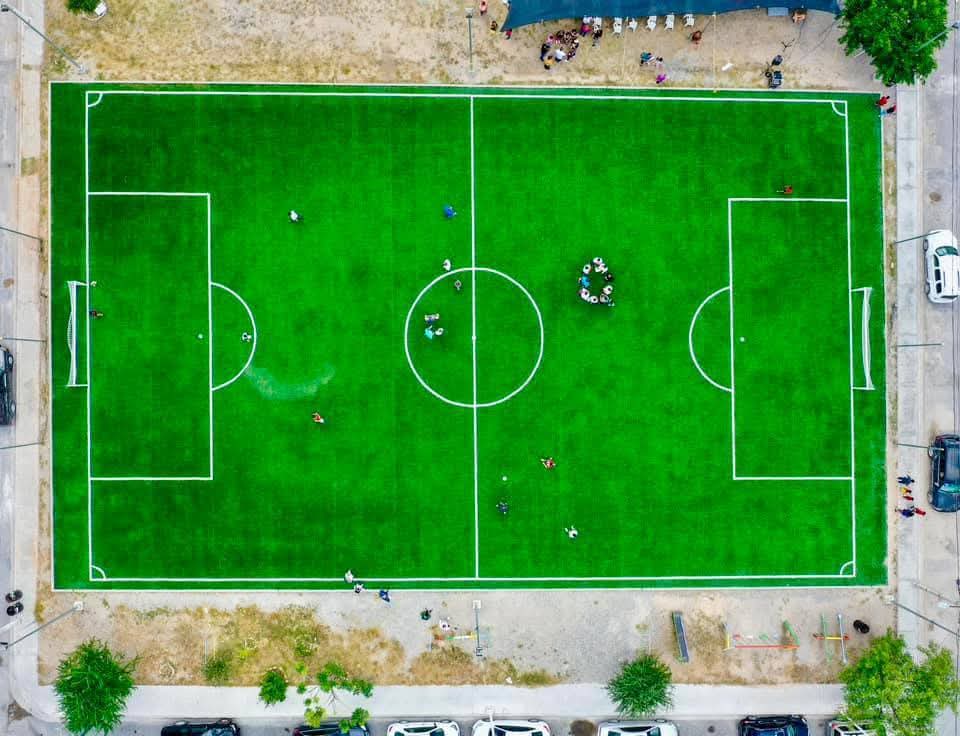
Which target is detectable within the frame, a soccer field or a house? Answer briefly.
soccer field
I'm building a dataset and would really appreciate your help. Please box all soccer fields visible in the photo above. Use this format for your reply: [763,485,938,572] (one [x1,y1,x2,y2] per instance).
[49,82,888,592]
